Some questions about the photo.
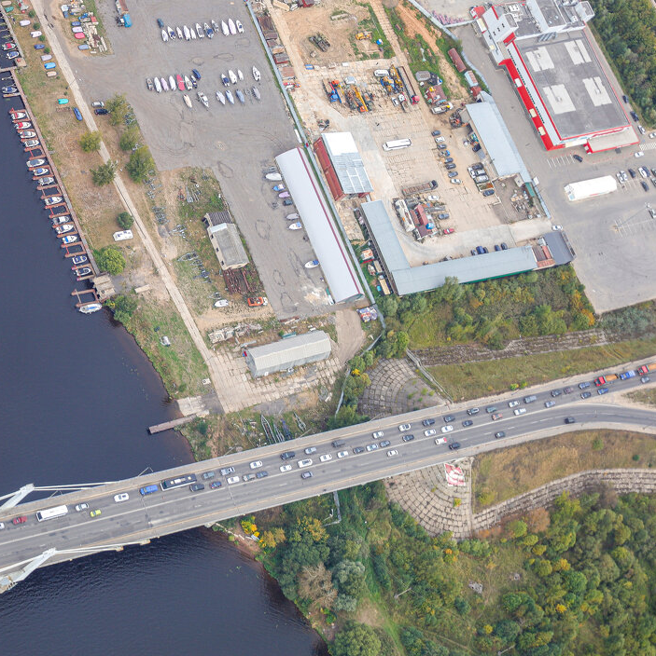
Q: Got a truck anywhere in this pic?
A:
Yes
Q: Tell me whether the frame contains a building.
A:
Yes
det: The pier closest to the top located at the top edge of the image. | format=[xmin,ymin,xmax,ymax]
[0,3,25,59]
